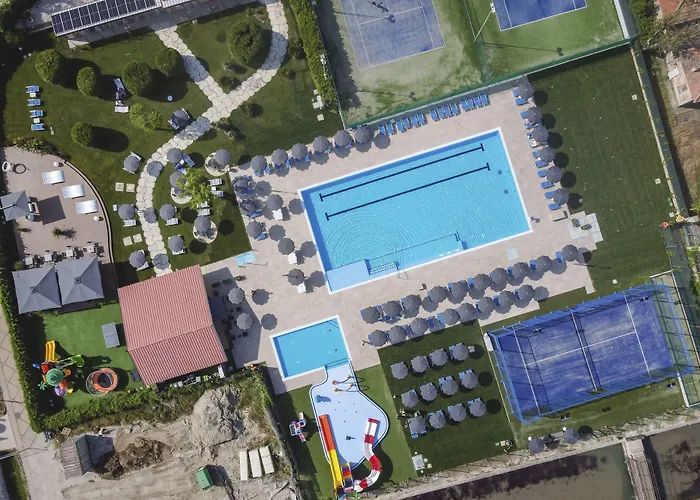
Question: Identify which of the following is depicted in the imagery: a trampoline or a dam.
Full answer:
The one in the frame is a trampoline.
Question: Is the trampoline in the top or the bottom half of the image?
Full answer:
It is in the bottom half that the trampoline appears.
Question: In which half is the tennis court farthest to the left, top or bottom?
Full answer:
The tennis court farthest to the left is in the top half of the image.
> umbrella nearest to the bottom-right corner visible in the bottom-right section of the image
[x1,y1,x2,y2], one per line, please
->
[562,427,580,446]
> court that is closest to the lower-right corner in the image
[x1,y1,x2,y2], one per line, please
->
[490,283,694,422]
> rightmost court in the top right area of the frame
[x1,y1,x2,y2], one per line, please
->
[494,0,587,31]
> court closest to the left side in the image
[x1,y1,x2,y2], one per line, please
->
[339,0,445,69]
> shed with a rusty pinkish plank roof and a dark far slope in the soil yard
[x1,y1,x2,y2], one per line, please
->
[56,436,93,482]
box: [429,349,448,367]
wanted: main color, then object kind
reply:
gray umbrella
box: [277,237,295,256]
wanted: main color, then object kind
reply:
gray umbrella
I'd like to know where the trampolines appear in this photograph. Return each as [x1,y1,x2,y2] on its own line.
[86,366,120,397]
